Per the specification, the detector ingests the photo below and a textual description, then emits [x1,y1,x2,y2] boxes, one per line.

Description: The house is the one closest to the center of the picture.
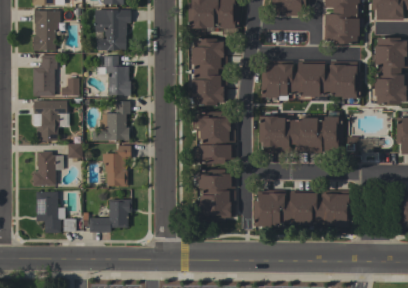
[198,116,237,166]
